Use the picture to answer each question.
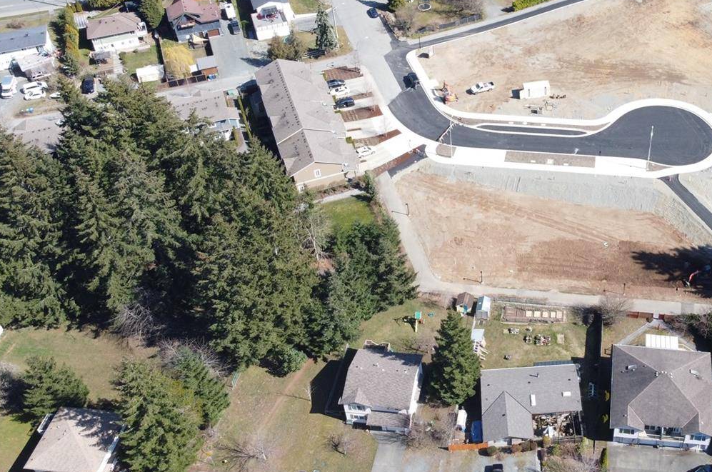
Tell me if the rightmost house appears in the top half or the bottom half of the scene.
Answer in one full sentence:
The rightmost house sits in the bottom half of the picture.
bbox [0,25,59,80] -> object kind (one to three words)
house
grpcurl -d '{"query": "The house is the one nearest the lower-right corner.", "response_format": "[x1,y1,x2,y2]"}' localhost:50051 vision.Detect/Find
[609,337,712,460]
